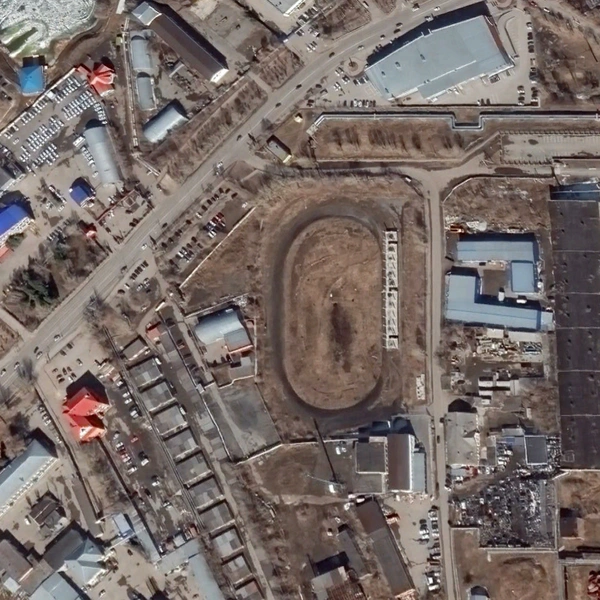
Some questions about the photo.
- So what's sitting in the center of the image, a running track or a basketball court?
running track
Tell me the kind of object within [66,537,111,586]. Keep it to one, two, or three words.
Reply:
building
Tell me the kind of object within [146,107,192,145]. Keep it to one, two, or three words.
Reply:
hangar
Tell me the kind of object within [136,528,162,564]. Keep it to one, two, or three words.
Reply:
shed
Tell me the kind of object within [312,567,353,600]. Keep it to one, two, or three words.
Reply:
house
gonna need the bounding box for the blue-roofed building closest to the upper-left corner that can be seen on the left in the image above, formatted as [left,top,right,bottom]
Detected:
[20,66,48,94]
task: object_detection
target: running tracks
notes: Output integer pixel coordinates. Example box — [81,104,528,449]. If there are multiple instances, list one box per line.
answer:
[270,203,400,426]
